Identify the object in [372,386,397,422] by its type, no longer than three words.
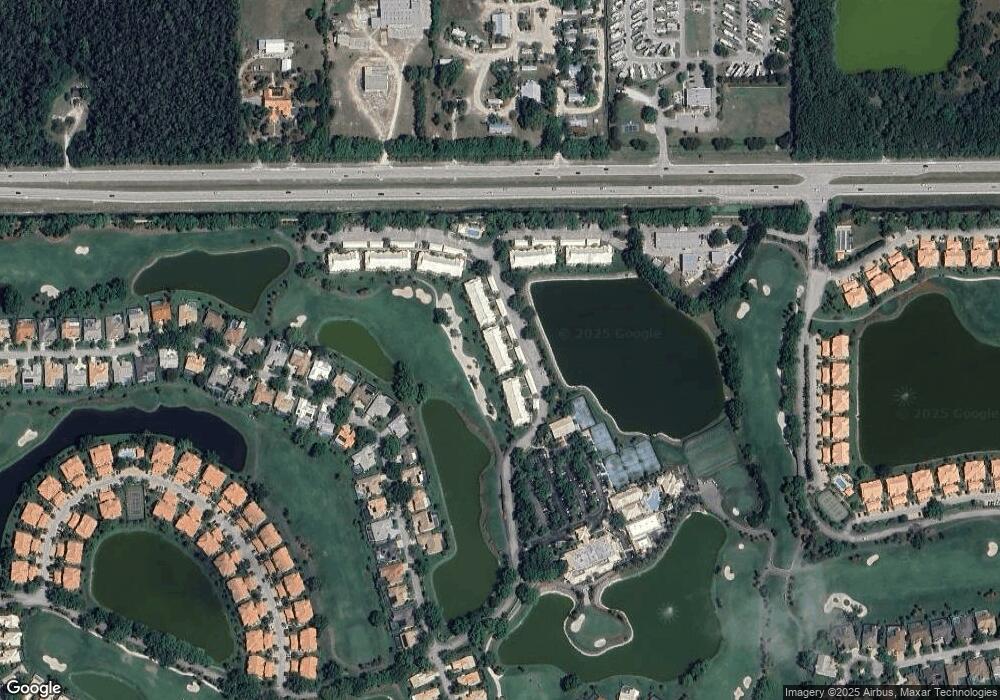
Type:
house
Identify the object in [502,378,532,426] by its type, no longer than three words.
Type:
building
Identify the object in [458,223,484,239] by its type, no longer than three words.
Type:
swimming pool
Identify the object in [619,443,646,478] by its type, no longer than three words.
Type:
tennis court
